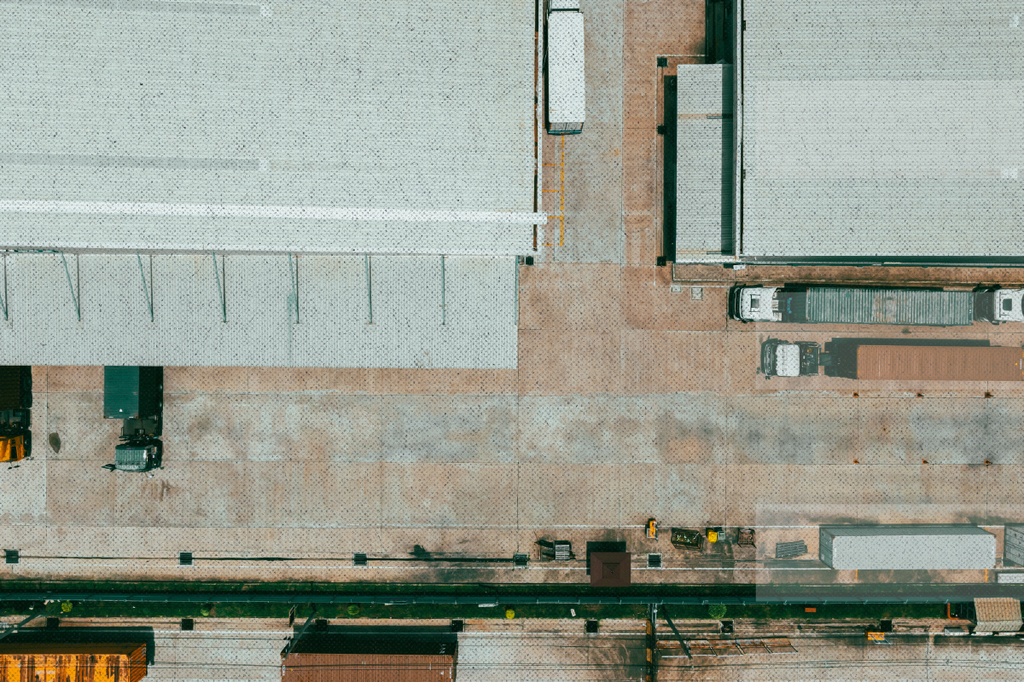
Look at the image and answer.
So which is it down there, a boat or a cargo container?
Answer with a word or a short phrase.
cargo container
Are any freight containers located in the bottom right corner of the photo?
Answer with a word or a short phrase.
Yes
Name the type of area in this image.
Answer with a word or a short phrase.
industrial area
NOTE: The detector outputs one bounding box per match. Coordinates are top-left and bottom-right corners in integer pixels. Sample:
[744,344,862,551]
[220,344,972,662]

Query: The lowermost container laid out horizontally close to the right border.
[819,528,995,569]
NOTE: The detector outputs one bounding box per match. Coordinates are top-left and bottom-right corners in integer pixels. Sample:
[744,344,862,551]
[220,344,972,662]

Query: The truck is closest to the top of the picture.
[547,0,585,139]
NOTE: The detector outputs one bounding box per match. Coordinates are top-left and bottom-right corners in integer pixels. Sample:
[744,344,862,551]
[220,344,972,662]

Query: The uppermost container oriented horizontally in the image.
[791,288,974,326]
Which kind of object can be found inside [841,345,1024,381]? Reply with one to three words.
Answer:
shipping container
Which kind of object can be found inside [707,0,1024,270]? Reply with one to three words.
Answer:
warehouse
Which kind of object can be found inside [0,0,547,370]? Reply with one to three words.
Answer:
warehouse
